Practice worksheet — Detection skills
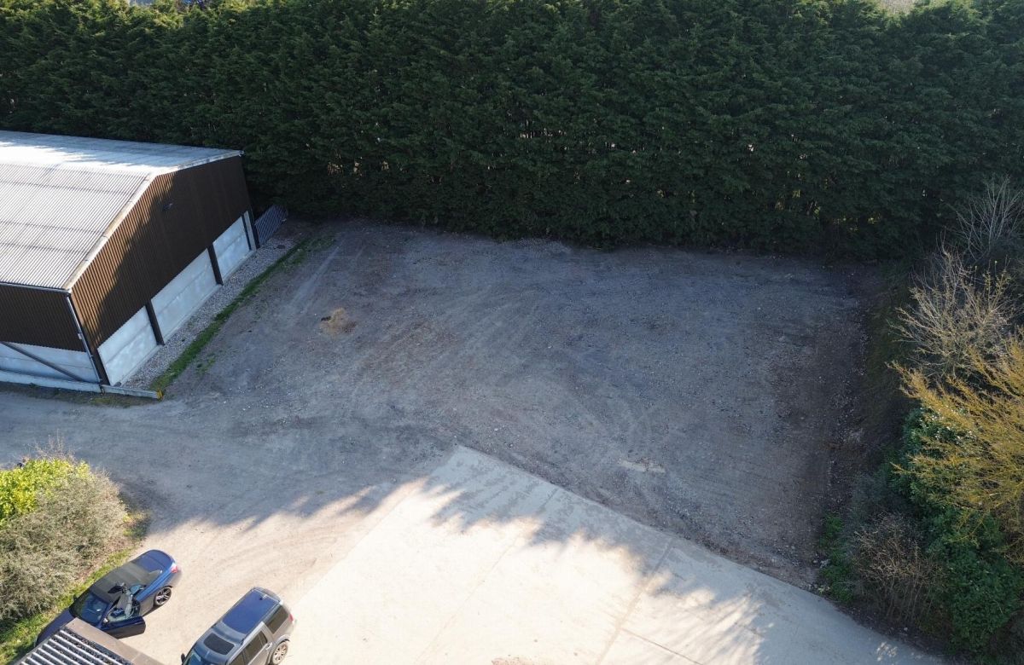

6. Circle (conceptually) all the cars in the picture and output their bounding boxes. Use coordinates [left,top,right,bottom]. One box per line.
[184,585,304,665]
[47,549,182,638]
